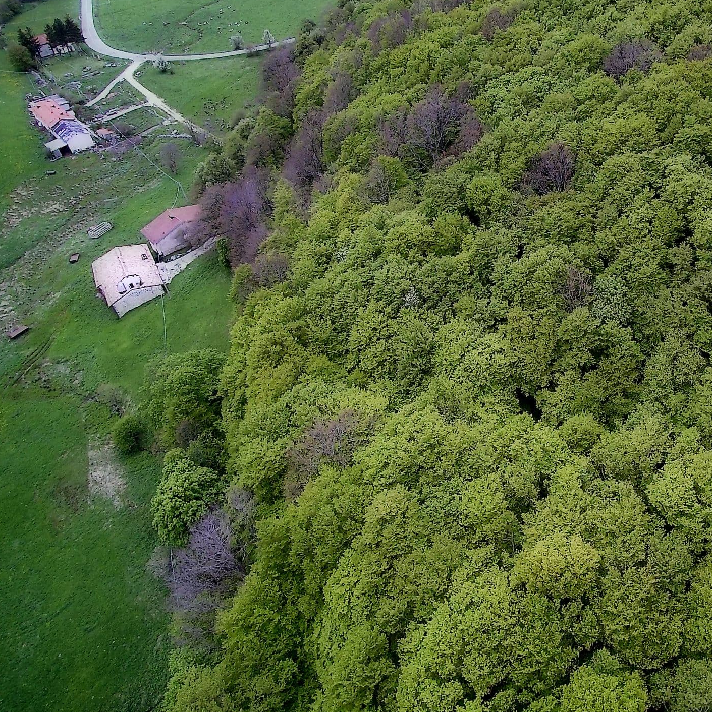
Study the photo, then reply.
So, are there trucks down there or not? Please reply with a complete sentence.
No, no truck is visible in the scene.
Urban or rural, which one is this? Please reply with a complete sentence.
The area shown here is rural.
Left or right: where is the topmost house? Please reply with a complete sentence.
The topmost house appears in the left half of the scene.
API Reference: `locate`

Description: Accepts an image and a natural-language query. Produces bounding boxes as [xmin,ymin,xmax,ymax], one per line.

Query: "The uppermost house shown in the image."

[30,34,91,59]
